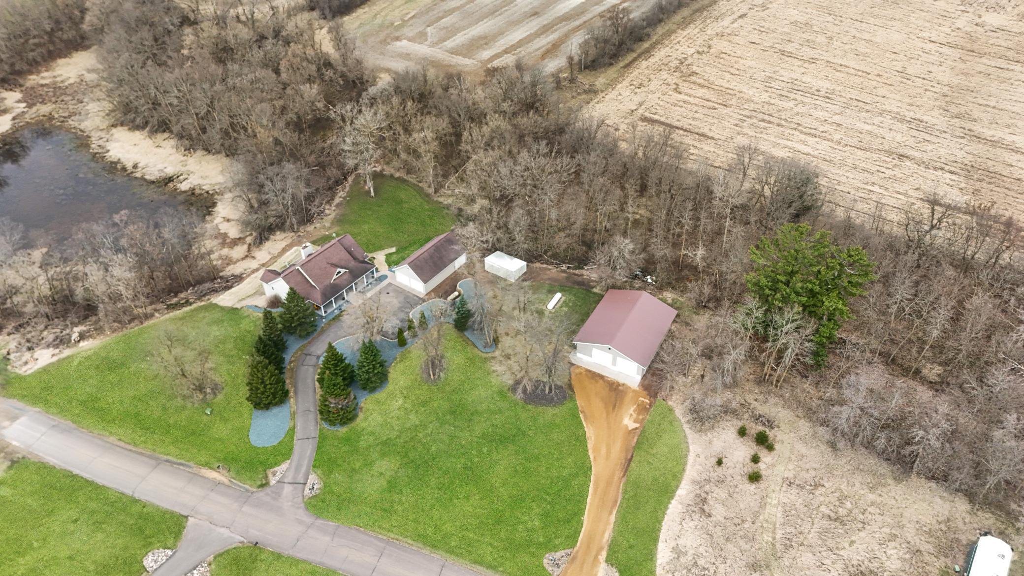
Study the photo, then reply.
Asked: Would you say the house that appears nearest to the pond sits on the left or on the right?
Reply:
left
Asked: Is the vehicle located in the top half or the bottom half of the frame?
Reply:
bottom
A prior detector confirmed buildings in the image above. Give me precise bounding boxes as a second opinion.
[392,233,465,293]
[484,250,526,282]
[258,234,378,317]
[569,289,678,387]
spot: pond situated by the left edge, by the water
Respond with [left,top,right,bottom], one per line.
[0,122,223,254]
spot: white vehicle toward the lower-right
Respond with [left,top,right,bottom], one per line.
[966,535,1013,576]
